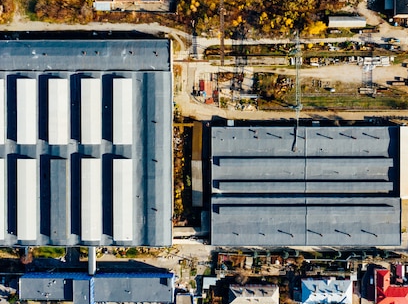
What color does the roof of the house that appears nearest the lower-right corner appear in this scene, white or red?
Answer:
red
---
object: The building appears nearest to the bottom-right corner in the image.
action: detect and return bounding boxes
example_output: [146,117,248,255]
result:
[372,267,408,304]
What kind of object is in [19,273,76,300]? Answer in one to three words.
building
